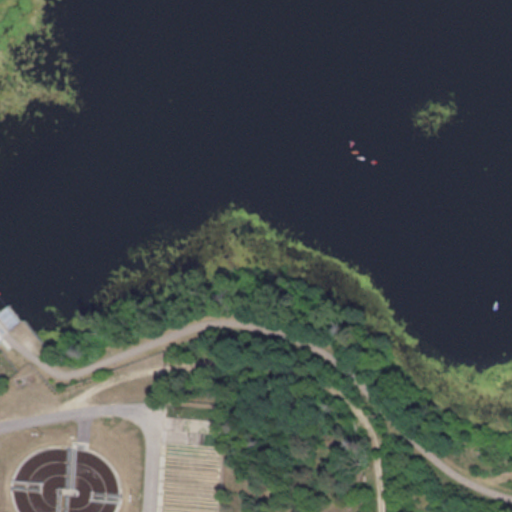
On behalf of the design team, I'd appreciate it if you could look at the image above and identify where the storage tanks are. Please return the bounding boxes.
[12,442,122,512]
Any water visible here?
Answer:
Yes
